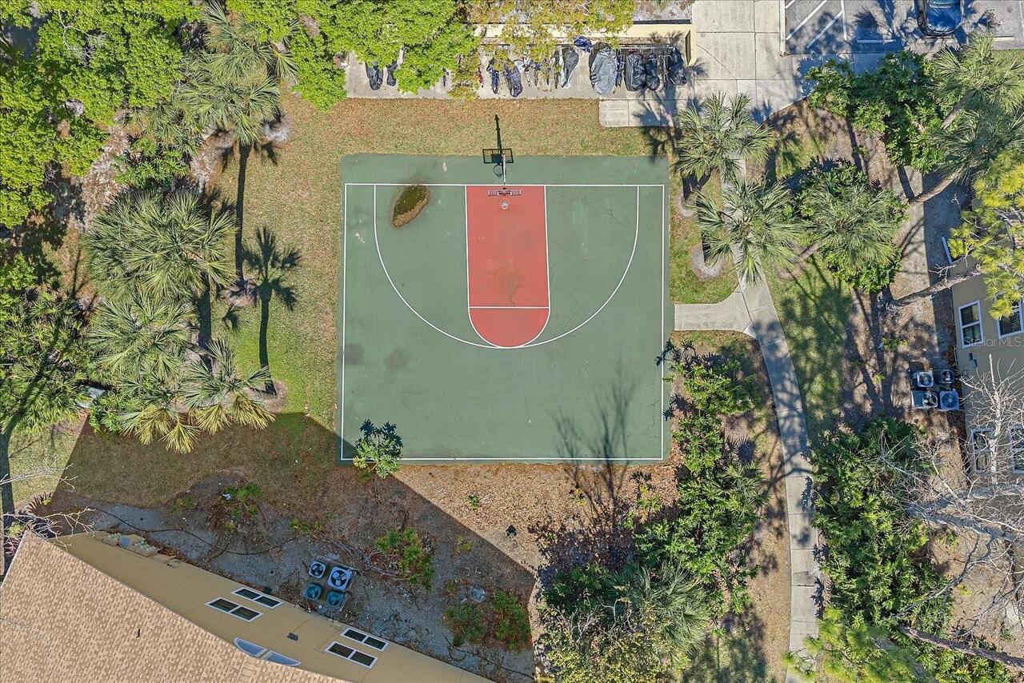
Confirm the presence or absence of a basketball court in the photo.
Yes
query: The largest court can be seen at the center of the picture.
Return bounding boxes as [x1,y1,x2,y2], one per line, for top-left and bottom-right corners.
[336,154,671,466]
